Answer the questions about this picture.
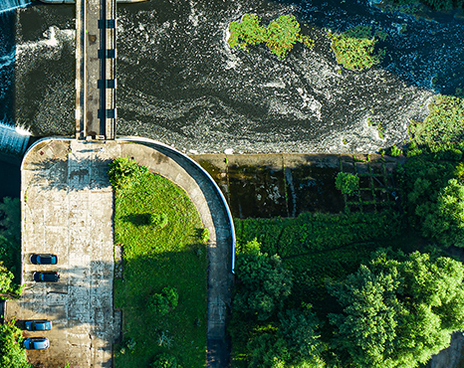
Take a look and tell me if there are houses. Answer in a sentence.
No, the frame has no house in it.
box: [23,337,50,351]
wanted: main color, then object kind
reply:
blue vehicle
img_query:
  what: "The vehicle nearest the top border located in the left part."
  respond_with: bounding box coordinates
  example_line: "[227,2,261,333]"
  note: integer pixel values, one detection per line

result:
[31,253,57,266]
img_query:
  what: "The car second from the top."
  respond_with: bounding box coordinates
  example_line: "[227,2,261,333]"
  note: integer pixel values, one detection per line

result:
[33,270,60,283]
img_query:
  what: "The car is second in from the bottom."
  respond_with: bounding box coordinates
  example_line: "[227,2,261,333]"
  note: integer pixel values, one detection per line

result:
[25,319,52,332]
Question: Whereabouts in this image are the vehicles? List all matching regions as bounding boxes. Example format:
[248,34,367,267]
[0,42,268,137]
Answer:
[31,253,57,266]
[23,337,50,351]
[33,270,60,283]
[25,319,52,332]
